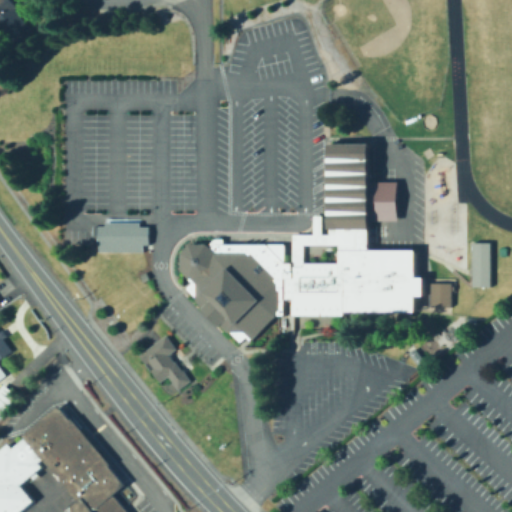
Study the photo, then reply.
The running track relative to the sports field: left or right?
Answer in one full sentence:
Compared with the sports field, the running track is located further to the right.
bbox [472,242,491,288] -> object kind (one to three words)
shed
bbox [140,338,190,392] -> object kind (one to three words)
house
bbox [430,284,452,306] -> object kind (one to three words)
shed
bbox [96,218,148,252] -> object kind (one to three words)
building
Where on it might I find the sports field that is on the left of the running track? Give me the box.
[361,0,412,58]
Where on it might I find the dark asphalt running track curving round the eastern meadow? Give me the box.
[450,0,512,231]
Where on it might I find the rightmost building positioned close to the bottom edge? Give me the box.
[20,408,128,512]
